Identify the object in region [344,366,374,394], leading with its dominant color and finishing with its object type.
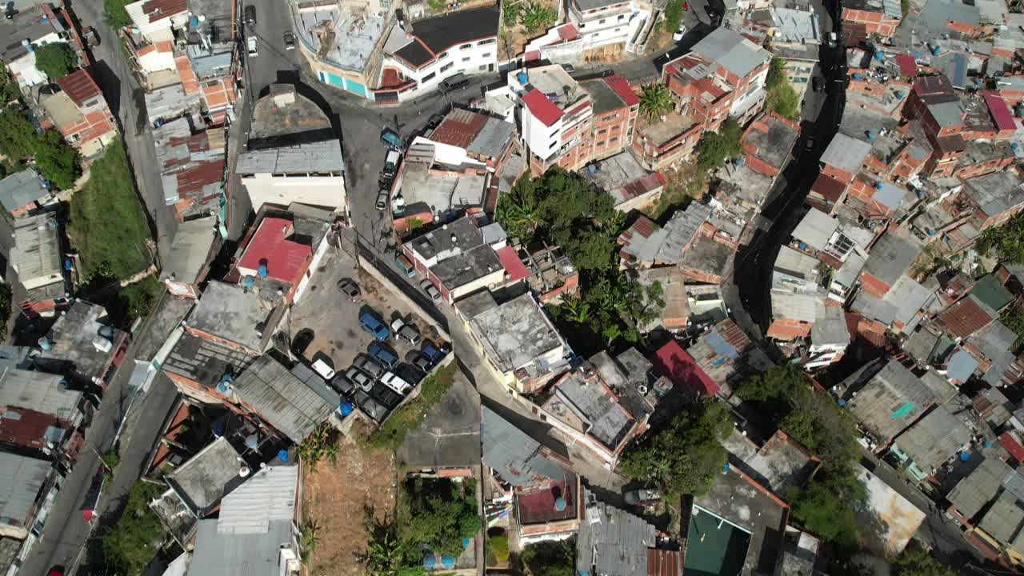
gray car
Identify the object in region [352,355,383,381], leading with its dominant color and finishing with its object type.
gray car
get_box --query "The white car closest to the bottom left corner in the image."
[310,355,337,380]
